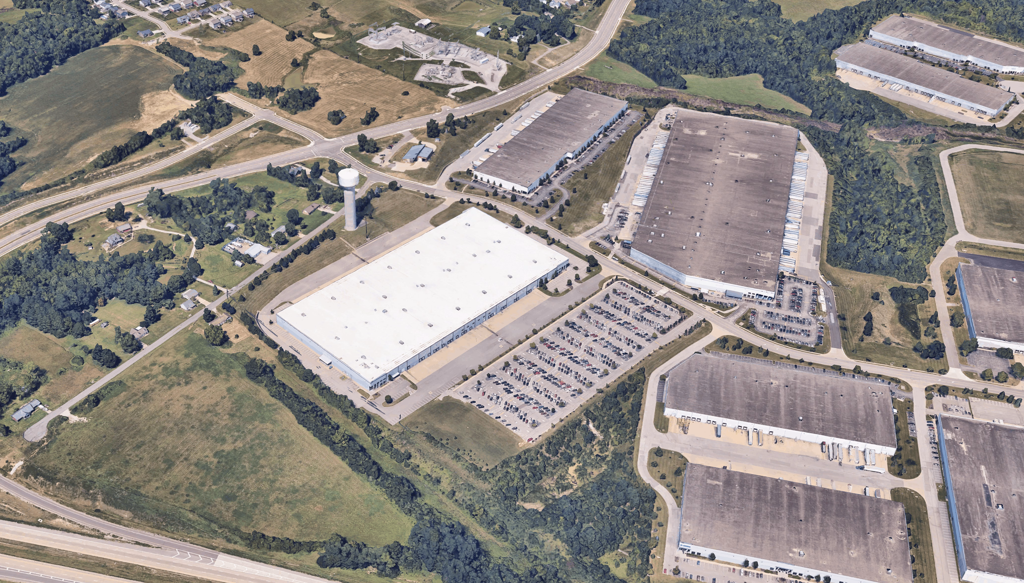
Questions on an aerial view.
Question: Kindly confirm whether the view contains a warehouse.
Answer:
Yes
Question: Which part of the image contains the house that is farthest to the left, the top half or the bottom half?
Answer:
bottom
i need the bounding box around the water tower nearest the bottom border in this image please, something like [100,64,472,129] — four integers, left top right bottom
[335,167,357,232]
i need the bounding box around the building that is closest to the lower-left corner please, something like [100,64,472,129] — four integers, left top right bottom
[3,399,48,425]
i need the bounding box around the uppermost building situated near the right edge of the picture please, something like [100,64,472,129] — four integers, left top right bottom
[869,15,1024,75]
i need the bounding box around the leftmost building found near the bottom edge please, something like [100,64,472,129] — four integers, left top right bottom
[675,462,914,583]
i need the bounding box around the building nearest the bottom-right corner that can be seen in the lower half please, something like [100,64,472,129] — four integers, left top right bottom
[938,413,1024,583]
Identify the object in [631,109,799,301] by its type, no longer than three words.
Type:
warehouse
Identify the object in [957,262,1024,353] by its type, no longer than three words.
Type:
building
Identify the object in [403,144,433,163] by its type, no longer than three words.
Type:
building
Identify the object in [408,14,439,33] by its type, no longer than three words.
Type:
barn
